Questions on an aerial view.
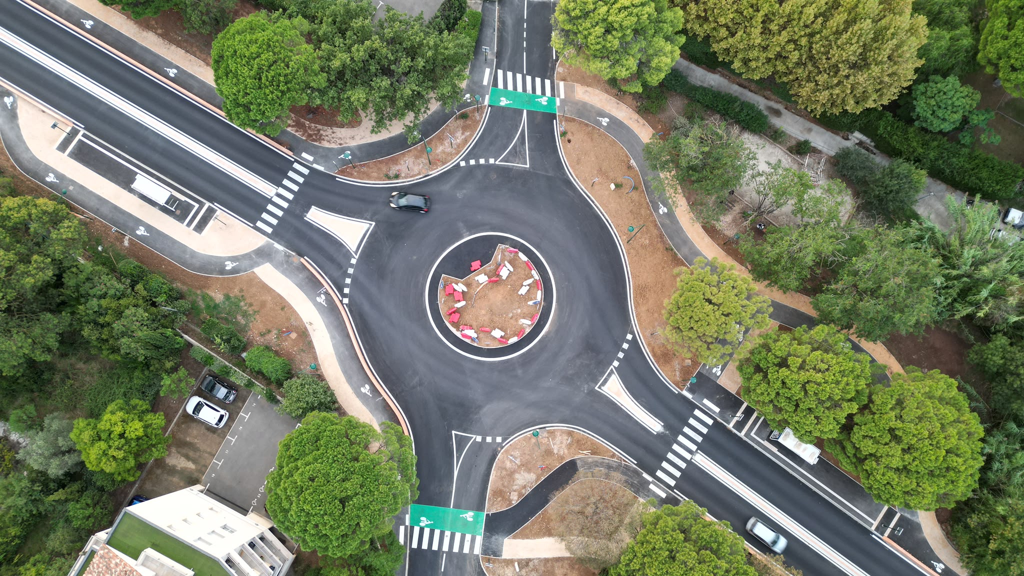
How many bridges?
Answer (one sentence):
There are no bridges in this view.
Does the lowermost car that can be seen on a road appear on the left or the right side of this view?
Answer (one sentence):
The lowermost car that can be seen on a road is on the right side of the image.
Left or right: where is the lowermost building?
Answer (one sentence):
You can find the lowermost building on the left side of the picture.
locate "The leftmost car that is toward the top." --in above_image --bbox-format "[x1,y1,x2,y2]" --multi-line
[389,190,431,214]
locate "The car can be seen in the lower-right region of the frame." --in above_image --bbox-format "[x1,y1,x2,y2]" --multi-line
[744,516,787,554]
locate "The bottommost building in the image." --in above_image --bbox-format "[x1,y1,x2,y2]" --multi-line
[66,481,297,576]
